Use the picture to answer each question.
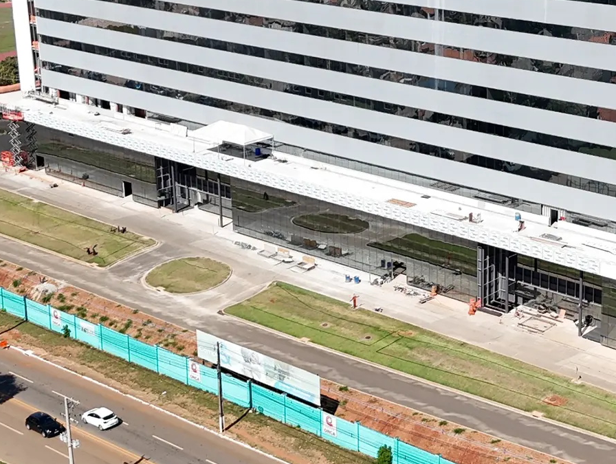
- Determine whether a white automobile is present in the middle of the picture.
No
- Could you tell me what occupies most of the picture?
buildings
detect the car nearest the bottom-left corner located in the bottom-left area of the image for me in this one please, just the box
[26,407,66,437]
